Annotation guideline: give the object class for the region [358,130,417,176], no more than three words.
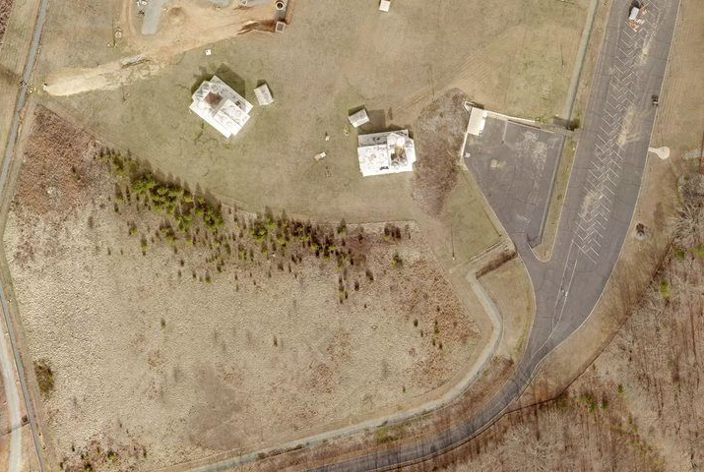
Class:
house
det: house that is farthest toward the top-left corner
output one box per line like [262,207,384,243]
[189,75,253,138]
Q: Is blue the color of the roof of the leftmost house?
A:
No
